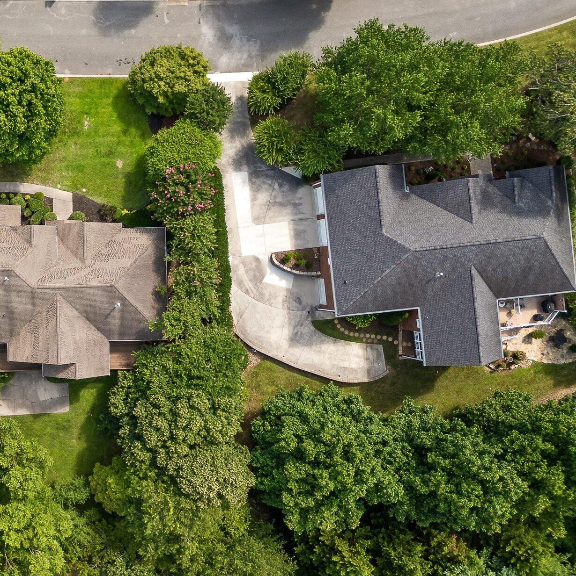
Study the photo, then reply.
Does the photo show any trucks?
No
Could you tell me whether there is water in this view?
No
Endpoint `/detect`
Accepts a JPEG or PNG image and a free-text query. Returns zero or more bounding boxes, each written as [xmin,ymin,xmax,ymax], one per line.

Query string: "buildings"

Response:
[0,203,168,379]
[312,164,576,367]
